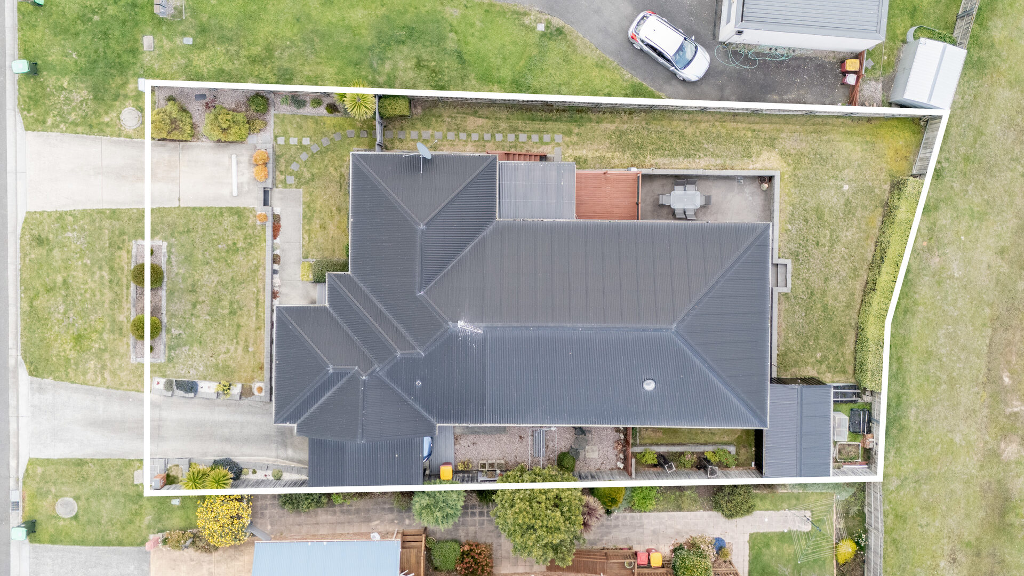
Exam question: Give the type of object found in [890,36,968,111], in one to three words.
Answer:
shed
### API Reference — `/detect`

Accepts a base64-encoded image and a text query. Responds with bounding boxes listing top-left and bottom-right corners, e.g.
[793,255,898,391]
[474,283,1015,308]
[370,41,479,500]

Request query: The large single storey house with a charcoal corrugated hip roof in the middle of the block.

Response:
[271,151,773,442]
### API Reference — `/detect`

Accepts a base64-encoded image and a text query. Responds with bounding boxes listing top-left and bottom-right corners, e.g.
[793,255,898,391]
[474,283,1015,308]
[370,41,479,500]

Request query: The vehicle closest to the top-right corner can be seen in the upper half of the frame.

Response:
[624,10,709,84]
